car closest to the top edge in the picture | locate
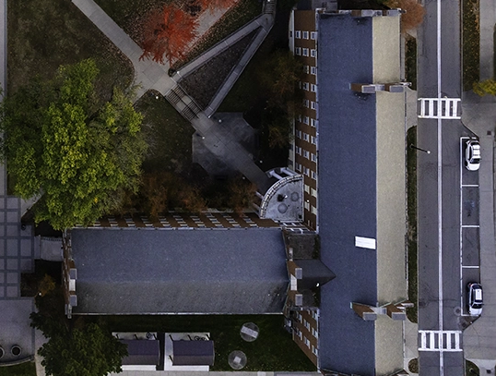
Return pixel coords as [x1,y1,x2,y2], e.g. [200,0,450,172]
[463,138,482,171]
